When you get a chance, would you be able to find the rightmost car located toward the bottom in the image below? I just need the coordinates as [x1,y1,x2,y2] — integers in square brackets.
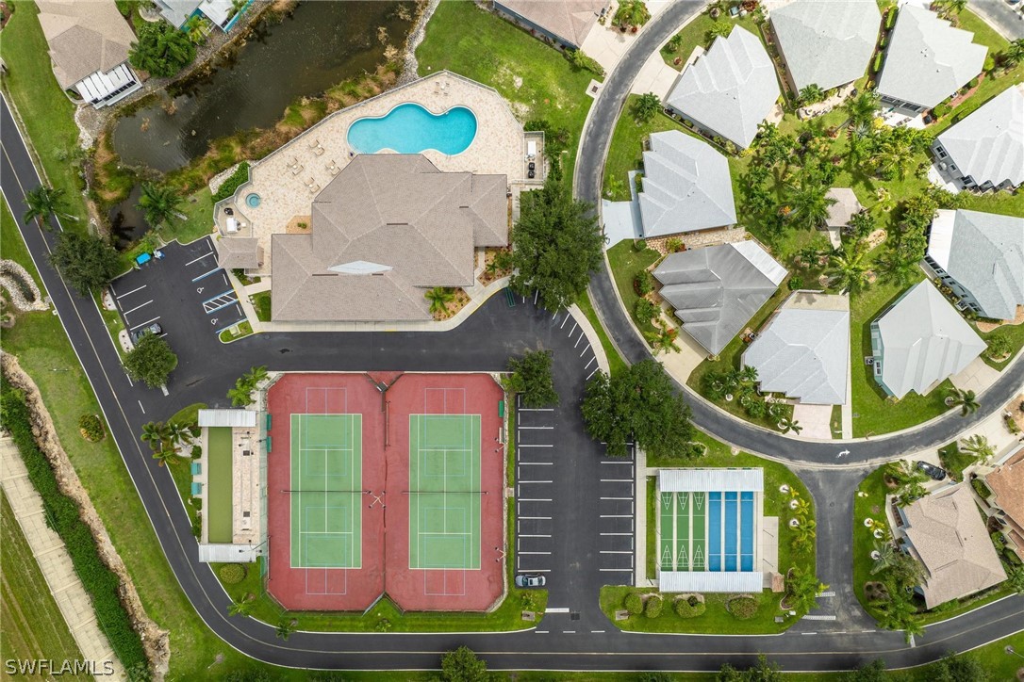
[915,459,947,480]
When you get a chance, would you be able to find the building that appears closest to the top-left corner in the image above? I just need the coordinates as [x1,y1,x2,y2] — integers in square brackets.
[33,0,142,108]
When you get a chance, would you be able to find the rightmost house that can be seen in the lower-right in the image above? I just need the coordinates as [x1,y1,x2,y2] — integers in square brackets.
[978,443,1024,552]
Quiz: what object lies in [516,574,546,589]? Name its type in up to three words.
car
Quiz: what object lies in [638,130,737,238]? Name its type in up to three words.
house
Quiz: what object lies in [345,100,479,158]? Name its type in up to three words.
swimming pool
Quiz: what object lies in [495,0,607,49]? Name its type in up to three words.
house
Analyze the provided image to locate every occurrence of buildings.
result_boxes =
[742,293,850,405]
[272,154,507,321]
[652,240,788,356]
[667,24,780,149]
[819,188,861,228]
[871,278,988,400]
[495,0,607,49]
[767,0,882,96]
[898,482,1008,610]
[638,130,737,238]
[33,0,142,108]
[153,0,256,38]
[932,81,1024,186]
[918,209,1024,320]
[978,443,1024,552]
[872,3,989,111]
